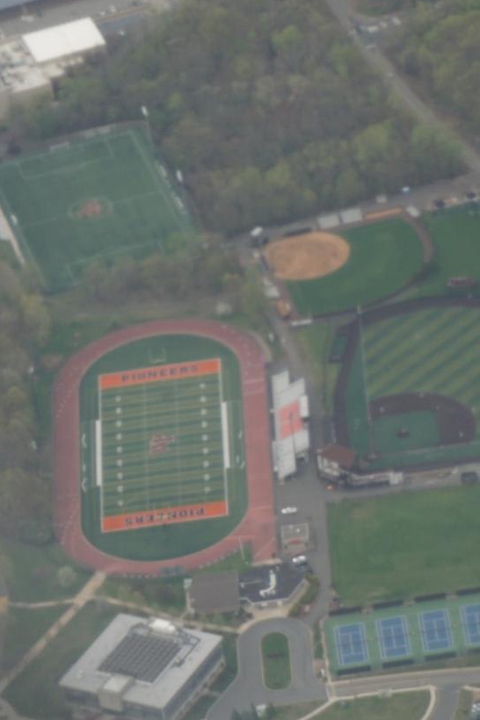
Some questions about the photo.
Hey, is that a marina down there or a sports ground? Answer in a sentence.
It's a sports ground.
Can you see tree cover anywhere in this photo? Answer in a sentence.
Yes, there's tree cover in this view.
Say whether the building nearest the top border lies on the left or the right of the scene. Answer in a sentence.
It is on the left.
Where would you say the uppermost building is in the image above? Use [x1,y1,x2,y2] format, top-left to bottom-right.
[23,18,108,67]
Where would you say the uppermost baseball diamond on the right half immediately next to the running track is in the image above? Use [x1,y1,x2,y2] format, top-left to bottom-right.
[264,215,432,317]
